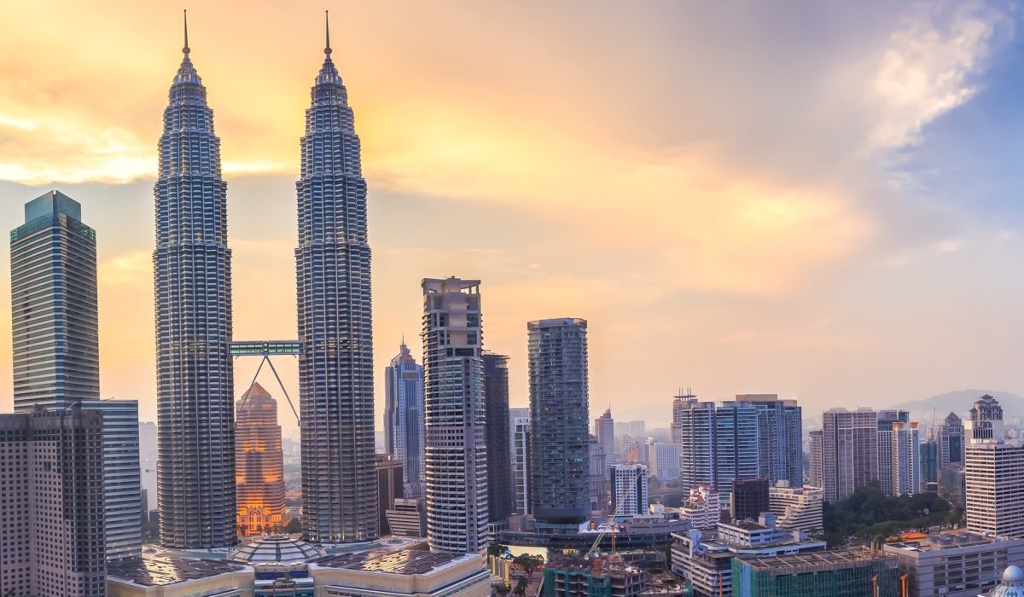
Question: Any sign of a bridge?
Yes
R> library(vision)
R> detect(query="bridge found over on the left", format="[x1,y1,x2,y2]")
[227,341,301,417]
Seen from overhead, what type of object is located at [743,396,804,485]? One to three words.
building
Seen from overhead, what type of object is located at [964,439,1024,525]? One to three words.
building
